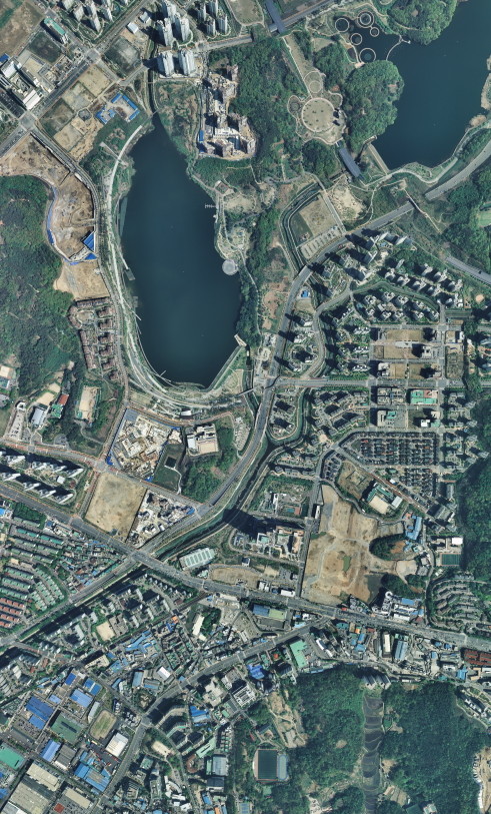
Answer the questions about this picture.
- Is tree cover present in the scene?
Yes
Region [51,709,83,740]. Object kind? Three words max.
building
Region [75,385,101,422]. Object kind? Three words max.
sports field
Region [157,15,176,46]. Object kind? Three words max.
building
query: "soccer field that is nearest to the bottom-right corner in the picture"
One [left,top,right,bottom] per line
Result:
[254,749,278,781]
